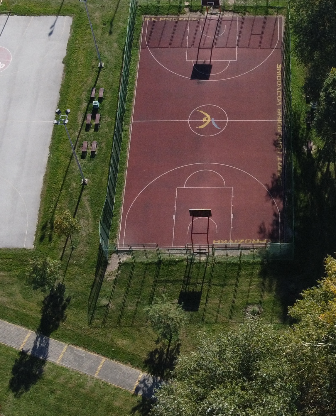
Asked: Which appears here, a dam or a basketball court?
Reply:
basketball court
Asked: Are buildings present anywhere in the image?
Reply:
No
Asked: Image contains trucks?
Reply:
No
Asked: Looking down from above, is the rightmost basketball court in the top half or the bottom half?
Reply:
top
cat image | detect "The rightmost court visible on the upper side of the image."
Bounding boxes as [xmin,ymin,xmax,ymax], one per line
[114,14,289,252]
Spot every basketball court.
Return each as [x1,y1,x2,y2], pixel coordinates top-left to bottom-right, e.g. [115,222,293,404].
[0,16,72,248]
[114,14,289,252]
